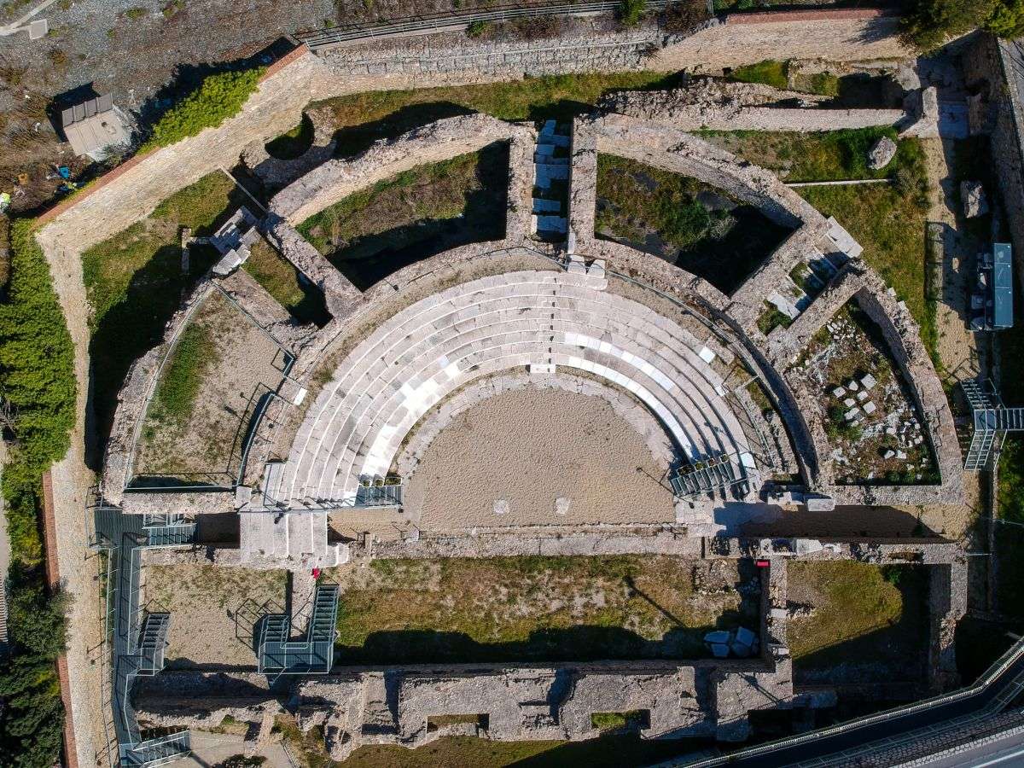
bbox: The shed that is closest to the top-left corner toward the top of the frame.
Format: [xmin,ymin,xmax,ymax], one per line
[62,93,144,164]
